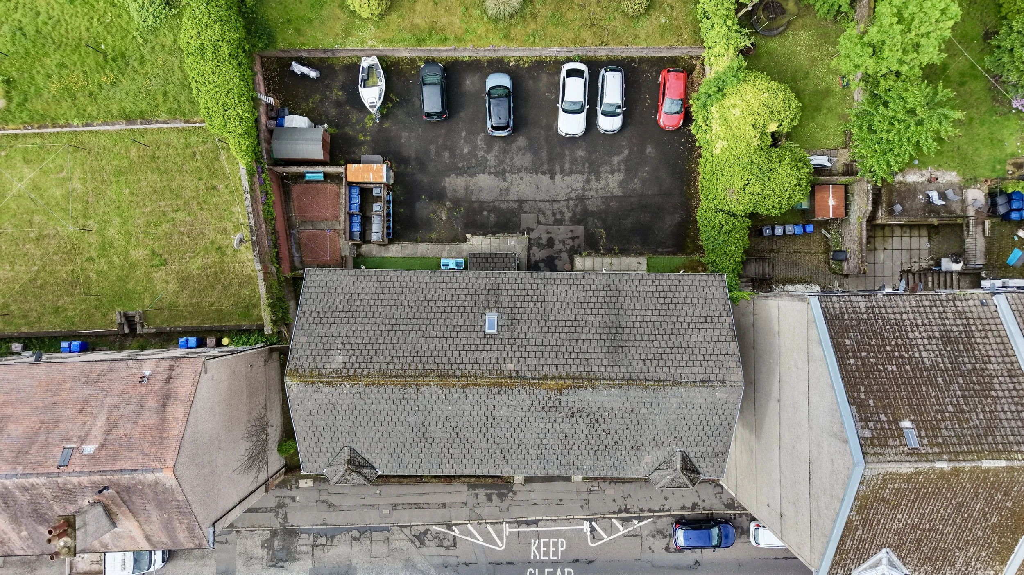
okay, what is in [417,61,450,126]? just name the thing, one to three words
car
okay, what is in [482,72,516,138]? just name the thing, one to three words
car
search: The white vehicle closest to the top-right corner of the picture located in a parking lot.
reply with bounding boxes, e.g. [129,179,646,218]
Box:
[595,66,629,135]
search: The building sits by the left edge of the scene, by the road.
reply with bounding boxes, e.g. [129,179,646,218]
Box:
[0,345,282,562]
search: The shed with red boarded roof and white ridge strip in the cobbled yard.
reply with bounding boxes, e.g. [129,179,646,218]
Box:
[803,184,845,220]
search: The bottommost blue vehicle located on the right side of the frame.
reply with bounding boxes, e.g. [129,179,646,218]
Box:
[671,516,736,553]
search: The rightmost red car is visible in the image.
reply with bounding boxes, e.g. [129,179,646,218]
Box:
[656,67,688,133]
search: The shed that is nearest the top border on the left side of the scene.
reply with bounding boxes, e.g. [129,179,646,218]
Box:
[272,127,332,163]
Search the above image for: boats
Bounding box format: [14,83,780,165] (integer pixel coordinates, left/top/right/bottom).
[358,52,384,111]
